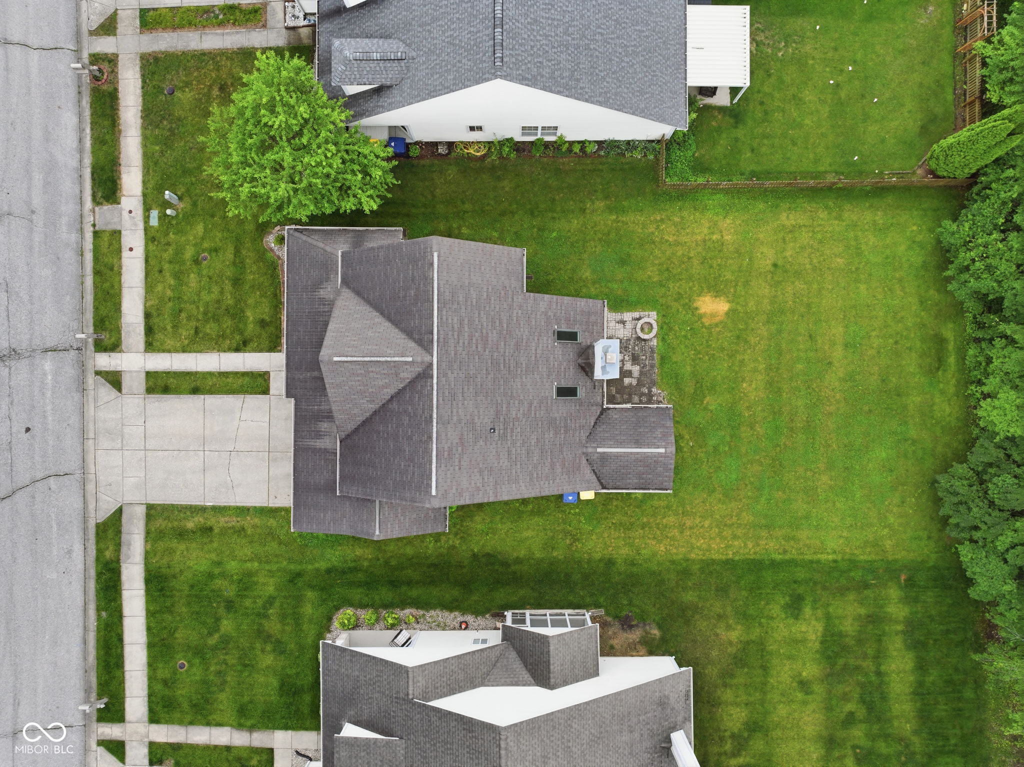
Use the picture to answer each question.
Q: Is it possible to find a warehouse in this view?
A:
No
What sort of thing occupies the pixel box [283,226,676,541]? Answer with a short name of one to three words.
house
